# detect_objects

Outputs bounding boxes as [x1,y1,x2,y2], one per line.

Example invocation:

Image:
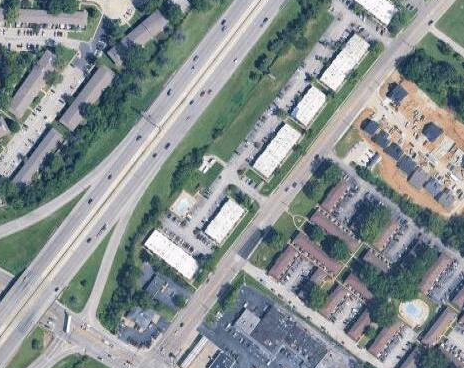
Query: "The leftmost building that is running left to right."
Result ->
[14,9,87,27]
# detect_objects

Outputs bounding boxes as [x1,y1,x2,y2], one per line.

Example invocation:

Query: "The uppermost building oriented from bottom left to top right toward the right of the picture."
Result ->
[320,34,370,91]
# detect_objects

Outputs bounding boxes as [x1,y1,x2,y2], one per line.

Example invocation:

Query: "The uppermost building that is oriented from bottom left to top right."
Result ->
[124,9,168,50]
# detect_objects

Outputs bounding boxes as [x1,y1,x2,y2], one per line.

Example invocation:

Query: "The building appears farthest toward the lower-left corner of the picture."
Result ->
[130,307,152,330]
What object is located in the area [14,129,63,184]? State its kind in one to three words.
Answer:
building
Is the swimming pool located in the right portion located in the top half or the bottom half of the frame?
bottom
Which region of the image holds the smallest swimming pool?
center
